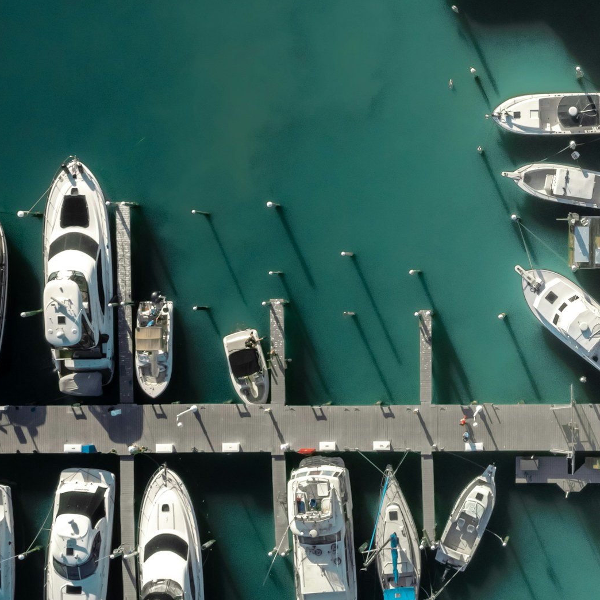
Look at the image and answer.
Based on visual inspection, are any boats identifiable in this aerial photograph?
Yes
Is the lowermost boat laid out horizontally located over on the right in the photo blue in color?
No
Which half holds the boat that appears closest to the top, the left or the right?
right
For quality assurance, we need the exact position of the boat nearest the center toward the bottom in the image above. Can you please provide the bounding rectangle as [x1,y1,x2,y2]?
[220,328,270,405]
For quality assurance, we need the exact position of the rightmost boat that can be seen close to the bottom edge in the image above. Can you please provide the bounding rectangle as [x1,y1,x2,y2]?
[435,462,494,577]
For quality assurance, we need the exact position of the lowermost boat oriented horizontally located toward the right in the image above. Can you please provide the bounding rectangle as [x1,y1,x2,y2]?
[502,164,600,213]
